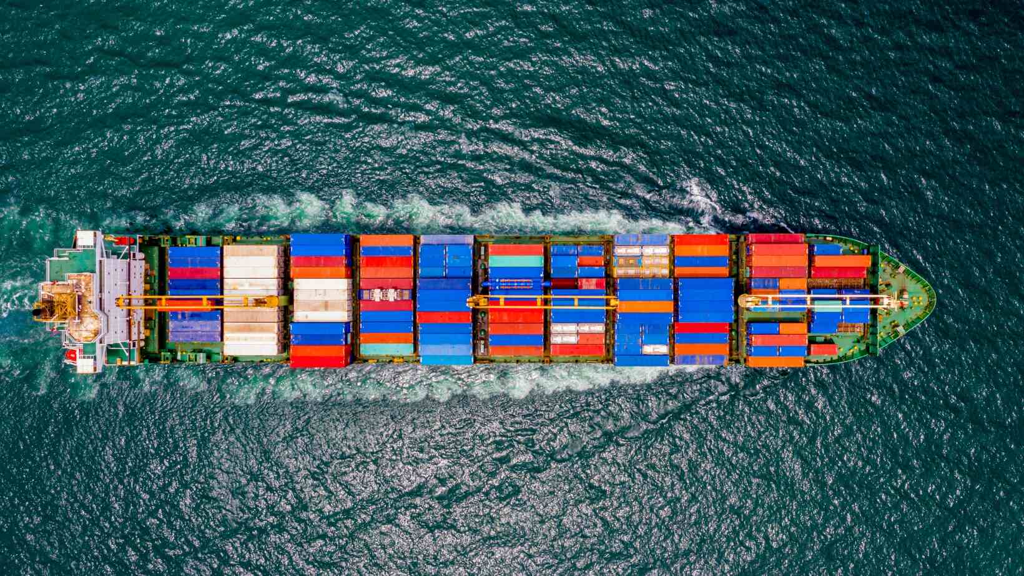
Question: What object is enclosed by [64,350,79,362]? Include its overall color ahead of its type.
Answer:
red boat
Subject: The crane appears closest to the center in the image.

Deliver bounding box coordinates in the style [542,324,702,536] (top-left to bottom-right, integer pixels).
[471,294,618,309]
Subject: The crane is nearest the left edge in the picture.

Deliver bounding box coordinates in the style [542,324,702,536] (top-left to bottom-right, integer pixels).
[119,294,294,309]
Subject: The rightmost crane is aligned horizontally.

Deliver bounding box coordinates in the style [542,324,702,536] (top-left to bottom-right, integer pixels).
[728,294,896,309]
